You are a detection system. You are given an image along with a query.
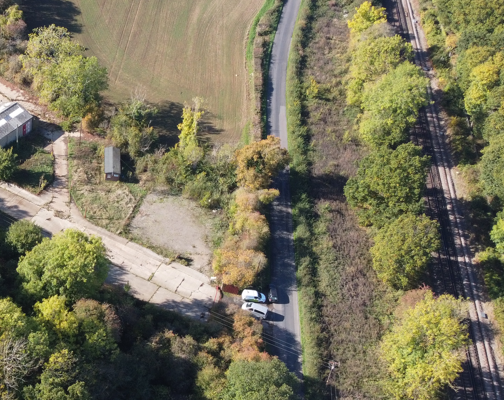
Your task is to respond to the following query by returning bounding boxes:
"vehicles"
[241,289,267,304]
[264,284,282,305]
[240,303,270,321]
